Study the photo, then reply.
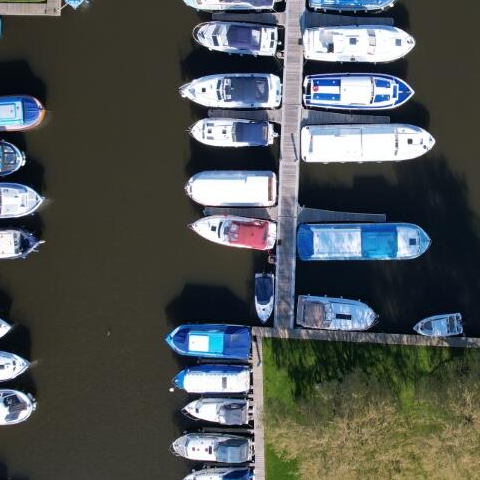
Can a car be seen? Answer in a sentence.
No, the picture doesn't show any car.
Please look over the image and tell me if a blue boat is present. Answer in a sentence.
Yes, there is a blue boat in the image.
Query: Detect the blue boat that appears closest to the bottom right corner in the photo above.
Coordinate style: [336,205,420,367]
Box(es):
[413,313,466,337]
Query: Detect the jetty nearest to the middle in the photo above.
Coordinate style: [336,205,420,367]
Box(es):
[204,208,278,221]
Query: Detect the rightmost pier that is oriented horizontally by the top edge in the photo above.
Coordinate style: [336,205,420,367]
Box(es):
[306,10,394,28]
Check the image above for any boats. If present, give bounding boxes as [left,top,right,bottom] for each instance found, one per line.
[0,184,46,218]
[0,231,41,261]
[189,21,286,58]
[182,395,253,425]
[296,25,415,65]
[167,431,255,464]
[291,293,380,330]
[0,141,26,178]
[0,388,38,428]
[255,269,274,323]
[297,74,414,110]
[187,118,283,149]
[182,171,285,207]
[294,125,435,164]
[186,213,284,250]
[0,97,46,132]
[169,364,256,396]
[0,349,32,380]
[189,0,282,12]
[178,73,290,109]
[291,221,434,261]
[303,0,395,15]
[166,322,259,360]
[184,464,255,480]
[413,313,466,337]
